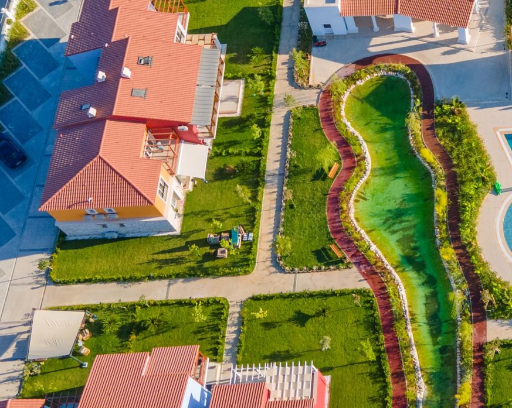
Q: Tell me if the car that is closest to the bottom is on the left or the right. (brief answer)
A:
left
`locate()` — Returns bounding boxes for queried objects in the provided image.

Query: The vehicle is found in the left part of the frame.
[0,130,32,172]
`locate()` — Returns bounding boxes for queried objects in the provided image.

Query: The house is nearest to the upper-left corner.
[33,0,246,243]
